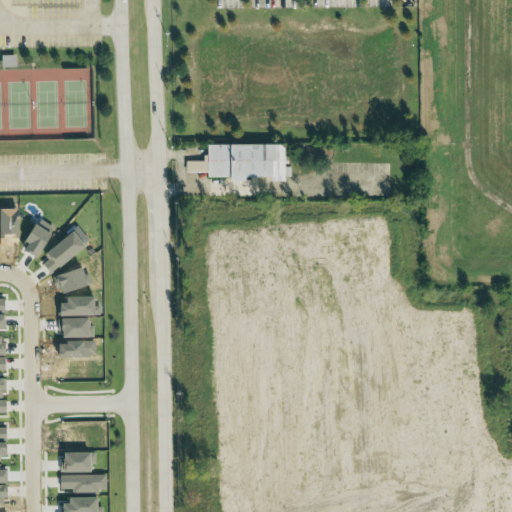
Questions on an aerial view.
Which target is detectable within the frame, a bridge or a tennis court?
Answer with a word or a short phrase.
tennis court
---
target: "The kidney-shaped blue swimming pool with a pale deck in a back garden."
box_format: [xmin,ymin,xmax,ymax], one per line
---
[26,202,44,218]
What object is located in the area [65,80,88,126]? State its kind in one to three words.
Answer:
tennis court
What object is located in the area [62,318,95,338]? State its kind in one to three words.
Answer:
house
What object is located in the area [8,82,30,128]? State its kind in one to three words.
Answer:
tennis court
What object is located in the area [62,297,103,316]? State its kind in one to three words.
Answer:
house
